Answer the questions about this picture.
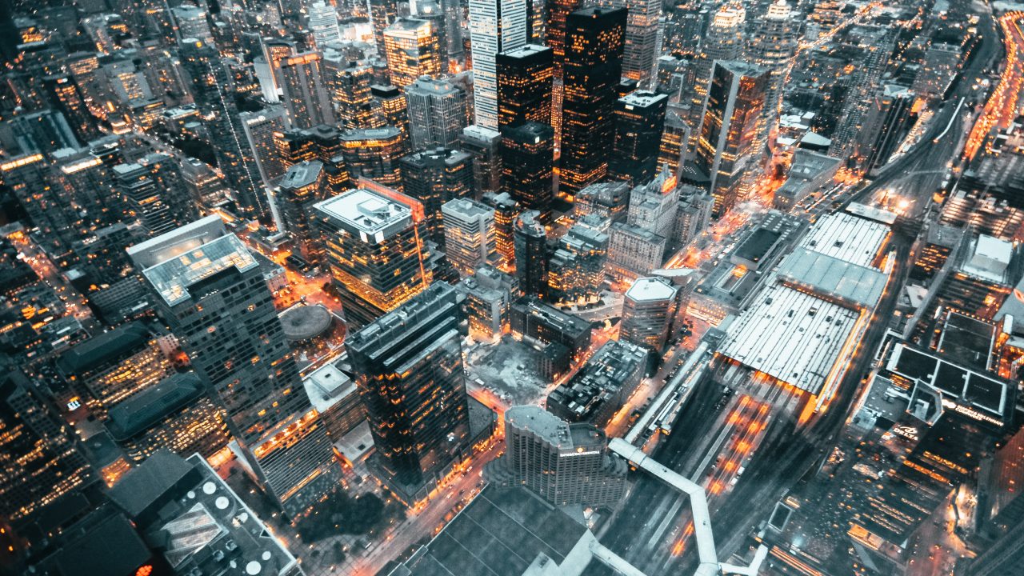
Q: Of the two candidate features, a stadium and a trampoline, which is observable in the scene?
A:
stadium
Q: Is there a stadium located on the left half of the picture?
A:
No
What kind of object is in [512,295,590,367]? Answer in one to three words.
building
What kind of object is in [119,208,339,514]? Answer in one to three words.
building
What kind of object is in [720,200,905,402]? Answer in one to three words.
shed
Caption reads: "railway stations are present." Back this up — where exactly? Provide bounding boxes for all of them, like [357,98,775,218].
[690,202,807,332]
